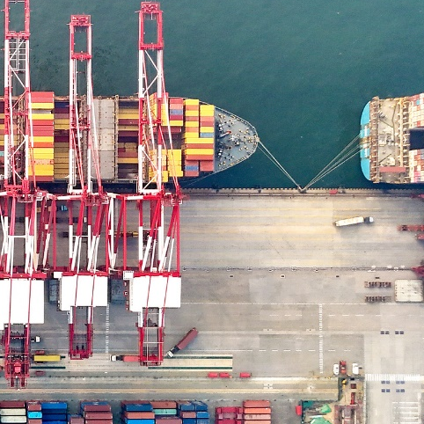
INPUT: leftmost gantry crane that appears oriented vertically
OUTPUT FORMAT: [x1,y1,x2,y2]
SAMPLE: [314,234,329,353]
[0,0,48,390]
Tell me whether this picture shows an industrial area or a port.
port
